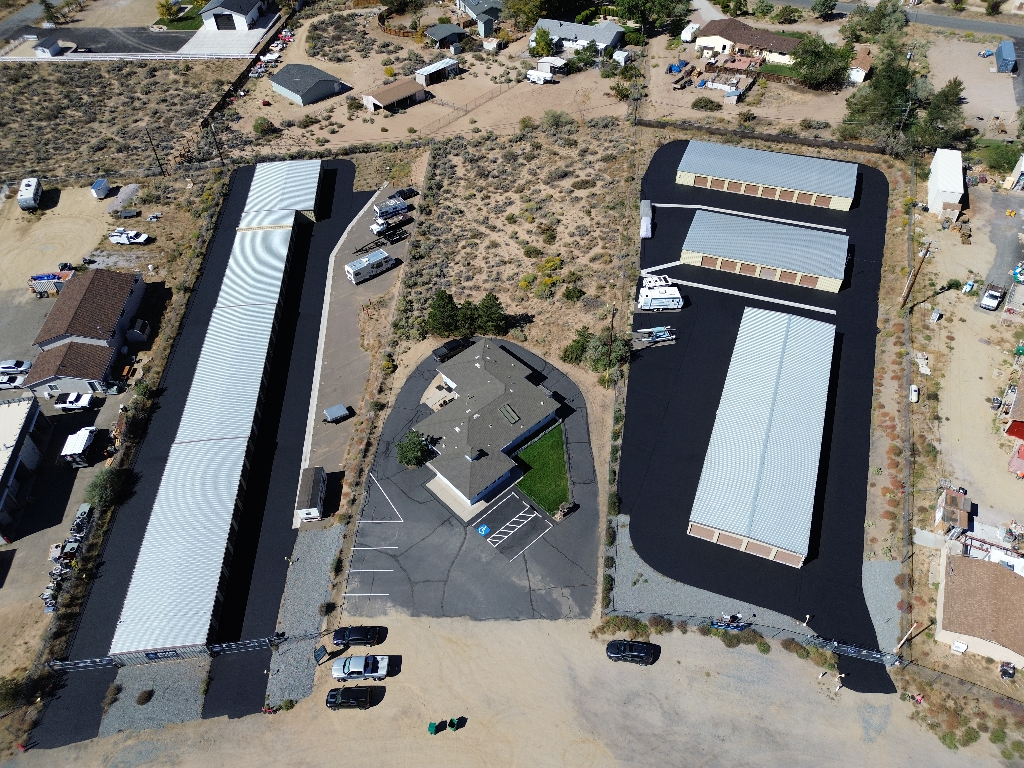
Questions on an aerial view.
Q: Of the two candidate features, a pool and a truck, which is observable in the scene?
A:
truck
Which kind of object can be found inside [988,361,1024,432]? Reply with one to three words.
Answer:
house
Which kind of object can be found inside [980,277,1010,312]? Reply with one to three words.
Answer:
truck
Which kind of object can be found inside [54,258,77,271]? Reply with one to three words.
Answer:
vehicle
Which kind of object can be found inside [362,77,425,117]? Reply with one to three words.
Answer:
barn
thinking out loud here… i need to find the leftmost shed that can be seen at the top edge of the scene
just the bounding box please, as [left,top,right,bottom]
[32,34,67,58]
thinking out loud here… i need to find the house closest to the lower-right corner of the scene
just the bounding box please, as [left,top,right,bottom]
[937,552,1019,662]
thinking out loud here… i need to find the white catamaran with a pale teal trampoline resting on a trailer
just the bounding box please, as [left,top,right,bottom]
[628,325,676,341]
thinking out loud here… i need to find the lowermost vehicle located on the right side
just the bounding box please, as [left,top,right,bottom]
[606,639,654,667]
